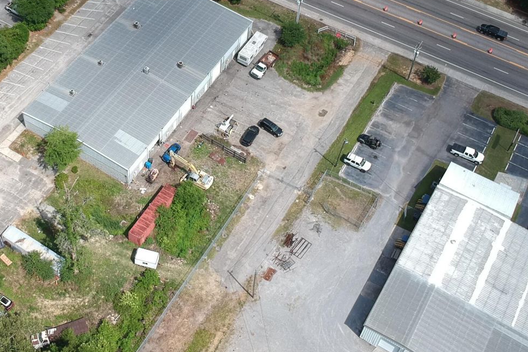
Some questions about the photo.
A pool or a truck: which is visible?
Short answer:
truck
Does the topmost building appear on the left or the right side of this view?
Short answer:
left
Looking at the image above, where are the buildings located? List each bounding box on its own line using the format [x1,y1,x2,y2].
[22,0,253,183]
[360,185,528,352]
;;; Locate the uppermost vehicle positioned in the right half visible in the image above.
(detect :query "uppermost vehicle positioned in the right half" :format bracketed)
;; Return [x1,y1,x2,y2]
[478,24,507,41]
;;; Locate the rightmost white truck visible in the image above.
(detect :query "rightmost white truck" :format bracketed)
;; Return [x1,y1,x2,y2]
[450,142,484,165]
